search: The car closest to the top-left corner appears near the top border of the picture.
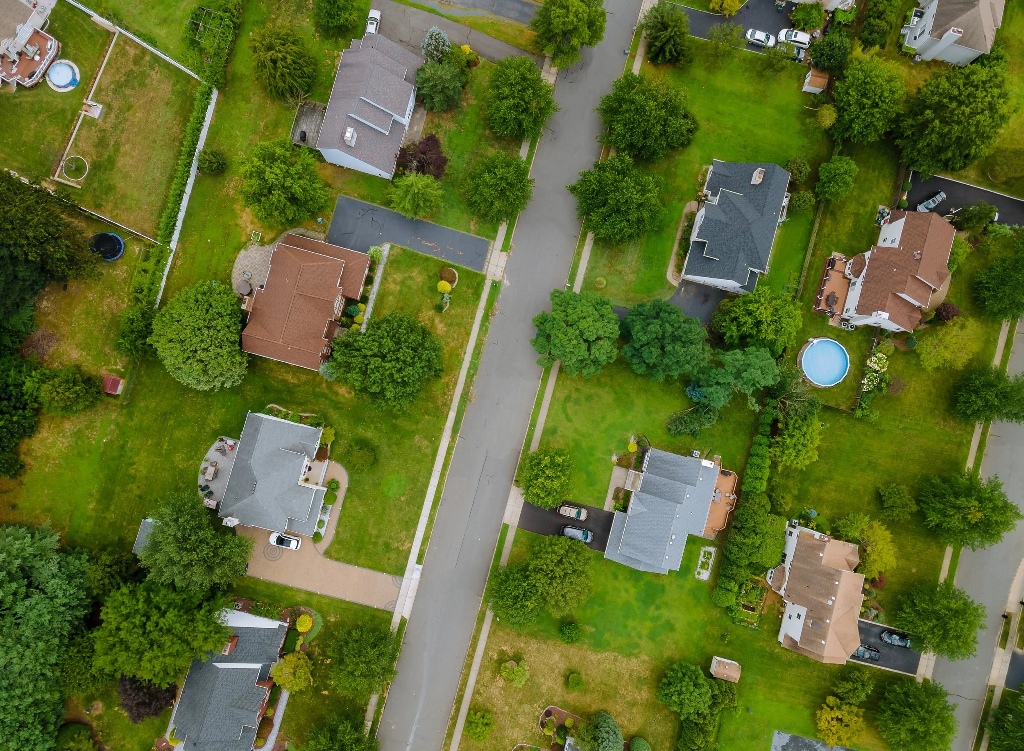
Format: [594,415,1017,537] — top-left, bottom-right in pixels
[364,9,382,34]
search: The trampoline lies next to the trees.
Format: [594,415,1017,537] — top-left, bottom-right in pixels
[91,230,126,262]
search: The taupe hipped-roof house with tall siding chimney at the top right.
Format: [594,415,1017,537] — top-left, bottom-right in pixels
[909,0,1008,69]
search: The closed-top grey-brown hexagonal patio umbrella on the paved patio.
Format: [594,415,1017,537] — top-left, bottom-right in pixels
[236,280,252,297]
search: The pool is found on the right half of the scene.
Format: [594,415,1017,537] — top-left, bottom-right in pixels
[804,338,853,385]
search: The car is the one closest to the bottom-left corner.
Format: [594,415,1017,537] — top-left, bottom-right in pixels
[269,533,303,551]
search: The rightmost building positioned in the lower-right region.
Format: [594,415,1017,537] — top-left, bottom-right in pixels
[762,525,870,663]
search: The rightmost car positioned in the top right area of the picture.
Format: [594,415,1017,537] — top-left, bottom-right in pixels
[913,190,948,210]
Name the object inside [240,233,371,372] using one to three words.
house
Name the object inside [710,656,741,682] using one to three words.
shed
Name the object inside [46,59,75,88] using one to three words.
swimming pool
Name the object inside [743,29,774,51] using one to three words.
car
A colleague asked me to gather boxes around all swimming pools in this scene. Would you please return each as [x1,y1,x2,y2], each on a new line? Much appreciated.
[46,59,75,88]
[804,338,853,385]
